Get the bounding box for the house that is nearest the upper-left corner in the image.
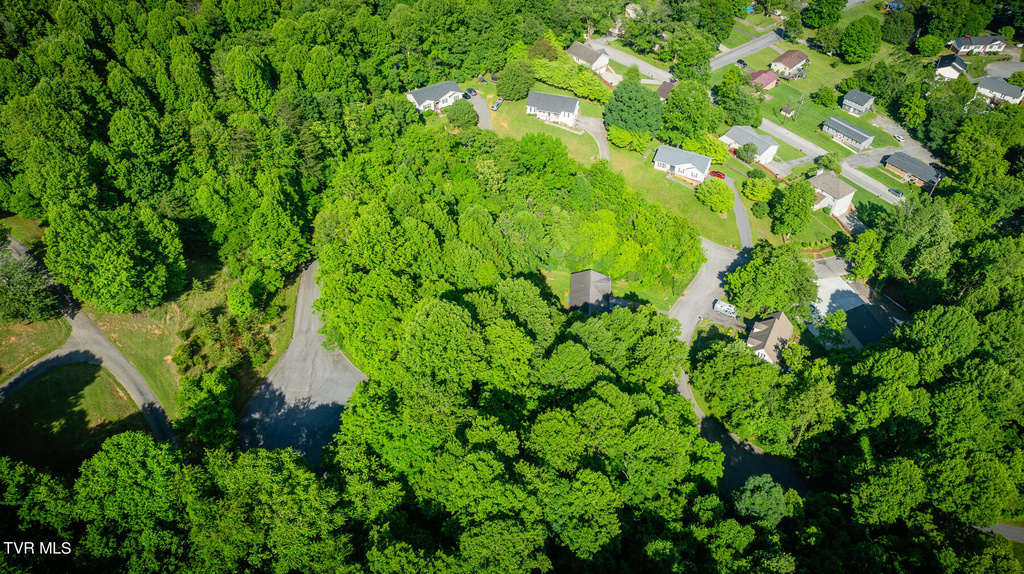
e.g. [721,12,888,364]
[404,81,462,114]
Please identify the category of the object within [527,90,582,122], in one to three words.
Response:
house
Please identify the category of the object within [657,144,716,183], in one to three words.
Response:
house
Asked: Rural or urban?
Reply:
rural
